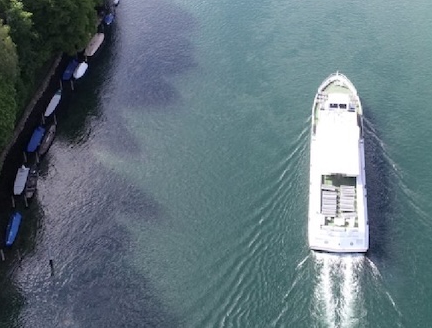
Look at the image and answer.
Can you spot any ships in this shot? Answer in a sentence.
Yes, the frame does contain a ship.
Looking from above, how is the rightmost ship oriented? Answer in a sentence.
In this picture, the rightmost ship lies up and down.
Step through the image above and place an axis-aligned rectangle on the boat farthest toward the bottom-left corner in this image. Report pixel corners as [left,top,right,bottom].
[1,209,22,246]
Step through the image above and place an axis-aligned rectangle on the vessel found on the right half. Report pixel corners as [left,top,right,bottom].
[308,68,369,260]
